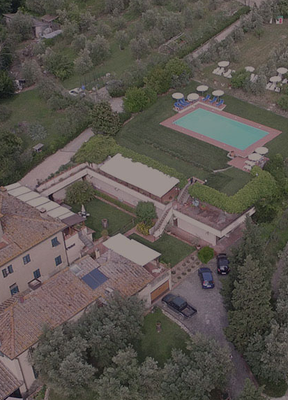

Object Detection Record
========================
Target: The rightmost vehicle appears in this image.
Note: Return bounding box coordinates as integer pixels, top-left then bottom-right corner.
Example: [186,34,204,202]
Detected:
[215,251,230,273]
